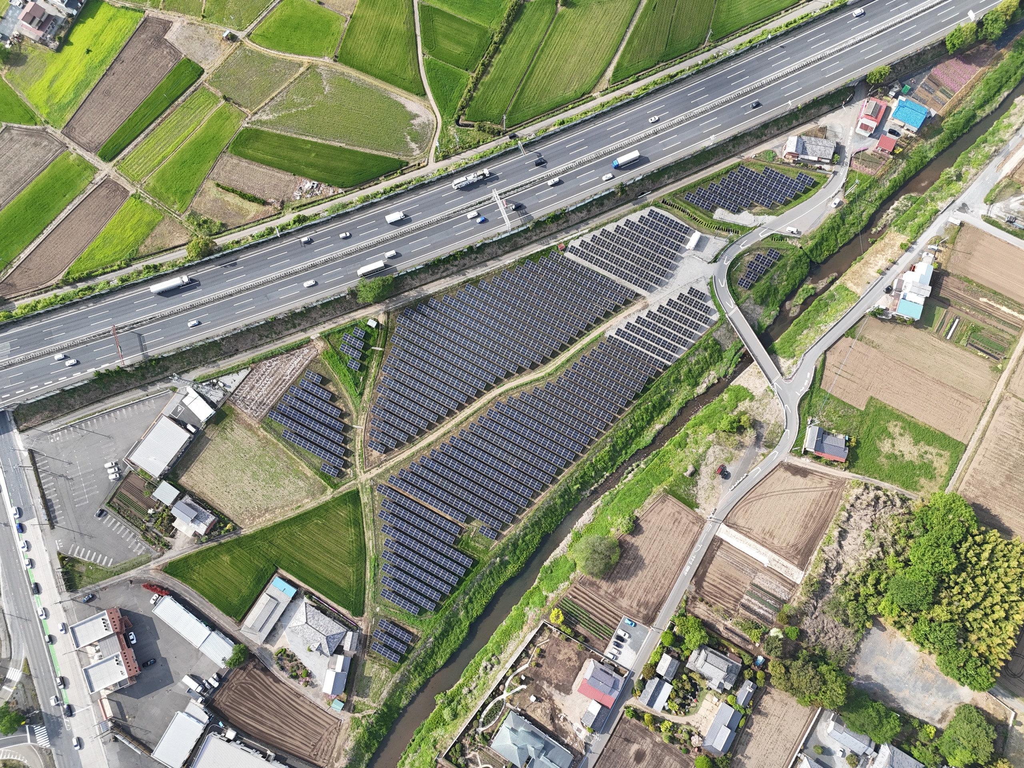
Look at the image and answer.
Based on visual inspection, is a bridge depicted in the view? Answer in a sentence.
Yes, there's a bridge here.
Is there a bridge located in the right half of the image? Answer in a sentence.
Yes, looking in the right half of the image, one can make out a bridge.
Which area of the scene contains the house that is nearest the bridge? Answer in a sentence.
The house that is nearest the bridge appears toward the right of the photo.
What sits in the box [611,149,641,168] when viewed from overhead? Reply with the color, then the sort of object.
white vehicle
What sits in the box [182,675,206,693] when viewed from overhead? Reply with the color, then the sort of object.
white vehicle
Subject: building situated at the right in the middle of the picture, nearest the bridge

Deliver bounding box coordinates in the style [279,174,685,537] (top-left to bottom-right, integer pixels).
[802,425,849,462]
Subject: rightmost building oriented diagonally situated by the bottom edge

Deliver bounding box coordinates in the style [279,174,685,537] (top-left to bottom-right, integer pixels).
[825,713,877,757]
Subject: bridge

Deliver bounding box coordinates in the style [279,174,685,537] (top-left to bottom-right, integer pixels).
[728,312,777,376]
